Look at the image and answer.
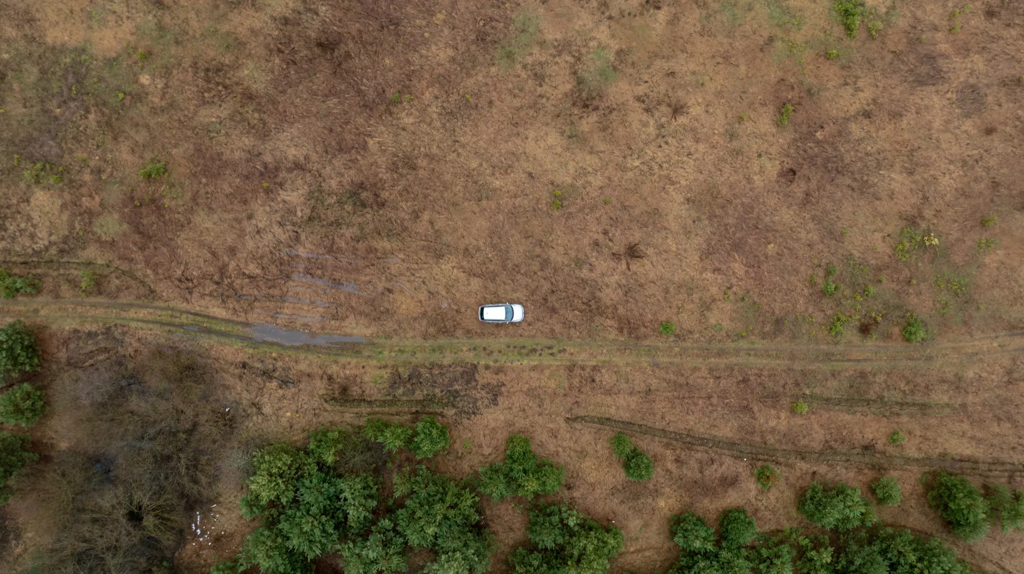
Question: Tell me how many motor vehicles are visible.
1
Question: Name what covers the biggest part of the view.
grass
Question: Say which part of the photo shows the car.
center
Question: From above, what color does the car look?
white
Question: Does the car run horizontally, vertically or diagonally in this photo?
horizontally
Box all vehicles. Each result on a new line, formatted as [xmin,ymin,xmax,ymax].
[478,303,524,324]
